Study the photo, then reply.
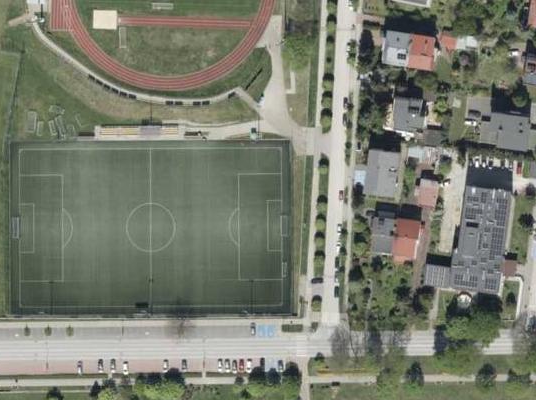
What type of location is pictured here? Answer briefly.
sports ground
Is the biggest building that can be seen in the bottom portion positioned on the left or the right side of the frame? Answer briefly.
right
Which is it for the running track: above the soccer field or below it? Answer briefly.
above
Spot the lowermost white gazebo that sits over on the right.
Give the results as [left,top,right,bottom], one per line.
[456,291,473,304]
